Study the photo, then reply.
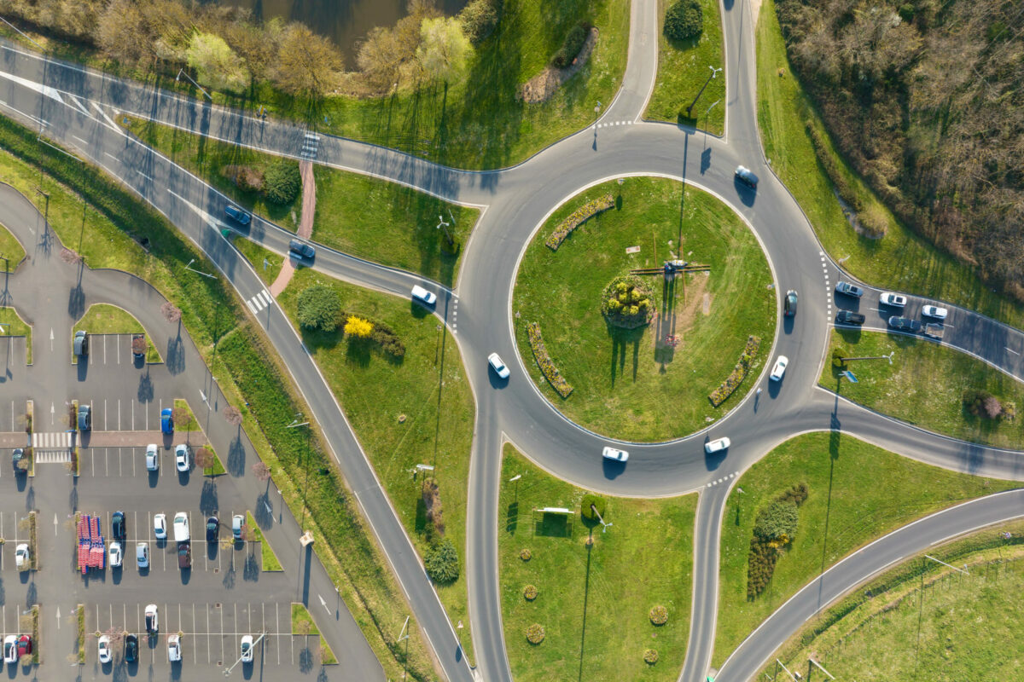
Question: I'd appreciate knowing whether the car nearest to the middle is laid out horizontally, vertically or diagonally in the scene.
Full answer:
The car nearest to the middle is laid out diagonally.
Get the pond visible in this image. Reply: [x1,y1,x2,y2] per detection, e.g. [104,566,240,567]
[219,0,467,73]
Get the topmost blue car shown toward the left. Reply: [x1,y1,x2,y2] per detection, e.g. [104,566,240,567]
[224,205,252,224]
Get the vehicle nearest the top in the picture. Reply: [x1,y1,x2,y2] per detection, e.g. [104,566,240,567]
[735,167,758,186]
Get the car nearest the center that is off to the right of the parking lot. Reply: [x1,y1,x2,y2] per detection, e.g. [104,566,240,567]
[487,354,510,379]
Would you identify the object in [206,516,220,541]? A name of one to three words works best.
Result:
car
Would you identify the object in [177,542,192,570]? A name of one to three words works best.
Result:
car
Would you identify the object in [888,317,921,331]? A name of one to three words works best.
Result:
vehicle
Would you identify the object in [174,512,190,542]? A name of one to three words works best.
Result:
vehicle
